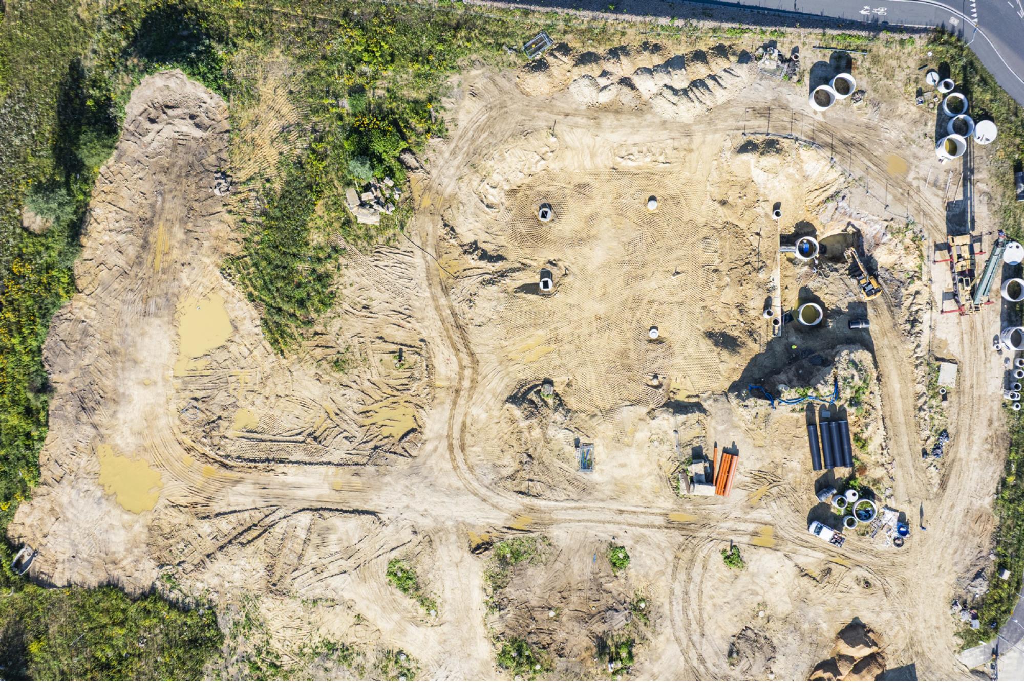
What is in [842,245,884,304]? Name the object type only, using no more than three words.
work vehicle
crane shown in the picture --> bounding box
[934,231,1006,310]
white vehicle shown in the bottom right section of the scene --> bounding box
[807,520,849,551]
